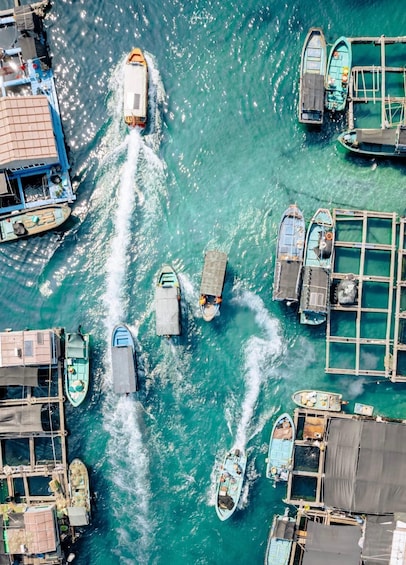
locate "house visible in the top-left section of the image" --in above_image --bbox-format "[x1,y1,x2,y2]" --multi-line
[0,95,64,170]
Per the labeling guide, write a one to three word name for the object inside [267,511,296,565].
boat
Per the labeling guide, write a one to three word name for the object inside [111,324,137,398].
boat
